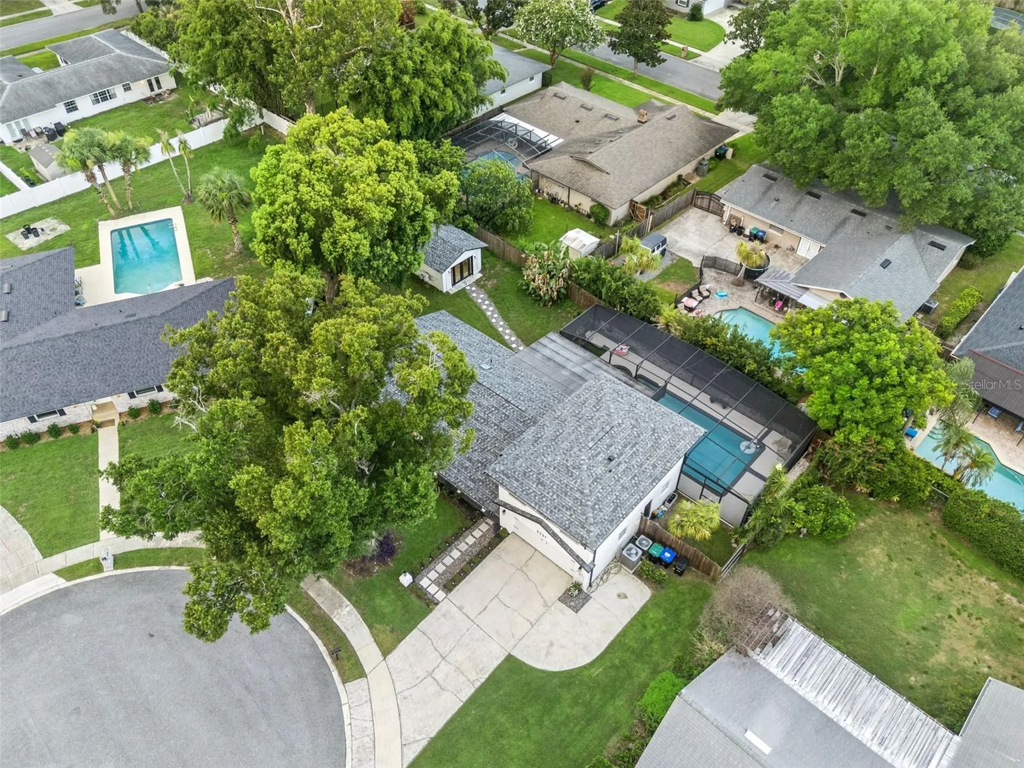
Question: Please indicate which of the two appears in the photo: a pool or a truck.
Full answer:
There is a pool in the scene.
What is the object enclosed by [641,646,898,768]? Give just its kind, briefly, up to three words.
house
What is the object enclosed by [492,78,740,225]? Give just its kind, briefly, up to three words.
house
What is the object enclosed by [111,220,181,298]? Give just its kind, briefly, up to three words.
swimming pool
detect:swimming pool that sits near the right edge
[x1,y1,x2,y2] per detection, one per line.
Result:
[924,422,1024,506]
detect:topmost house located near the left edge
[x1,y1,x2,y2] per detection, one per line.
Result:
[0,36,169,148]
